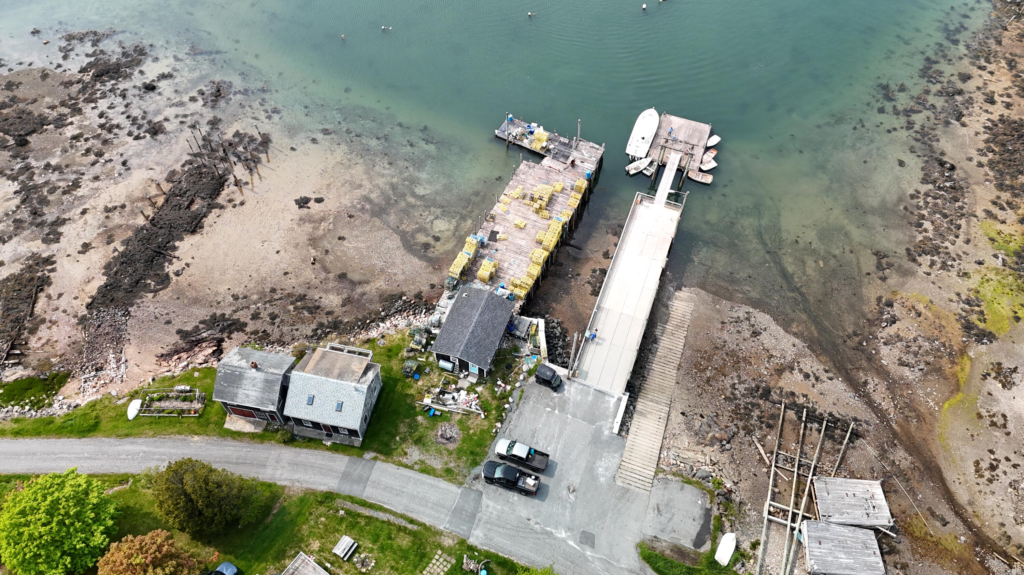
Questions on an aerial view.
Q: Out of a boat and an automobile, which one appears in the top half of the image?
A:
boat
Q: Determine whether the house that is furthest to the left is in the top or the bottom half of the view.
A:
bottom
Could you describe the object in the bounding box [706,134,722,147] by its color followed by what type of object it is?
white boat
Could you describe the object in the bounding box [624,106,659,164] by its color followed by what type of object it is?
white boat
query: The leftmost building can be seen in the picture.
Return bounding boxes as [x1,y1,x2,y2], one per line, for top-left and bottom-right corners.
[214,346,299,425]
